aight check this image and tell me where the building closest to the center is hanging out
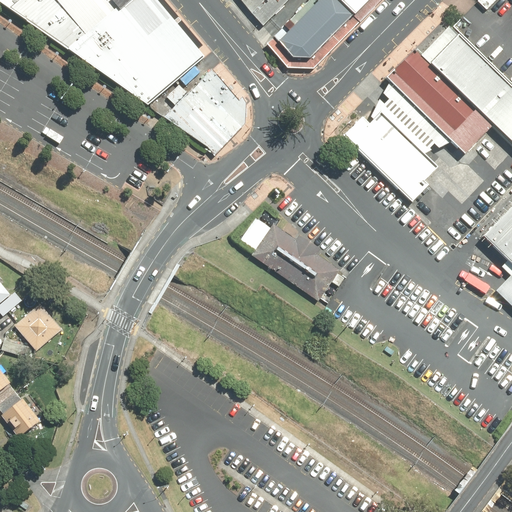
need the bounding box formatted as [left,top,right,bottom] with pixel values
[241,218,341,305]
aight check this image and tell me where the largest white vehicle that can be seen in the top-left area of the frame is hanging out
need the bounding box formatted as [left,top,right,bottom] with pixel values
[42,128,64,145]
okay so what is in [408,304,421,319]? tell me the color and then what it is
white vehicle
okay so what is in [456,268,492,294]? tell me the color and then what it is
pink truck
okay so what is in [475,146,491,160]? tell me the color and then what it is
white car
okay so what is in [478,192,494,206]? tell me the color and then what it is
white vehicle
